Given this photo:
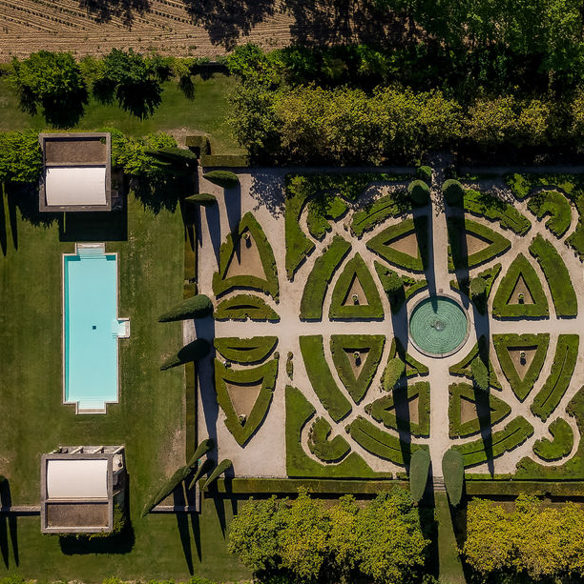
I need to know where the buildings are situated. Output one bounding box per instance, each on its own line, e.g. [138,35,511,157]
[39,133,122,212]
[41,447,124,533]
